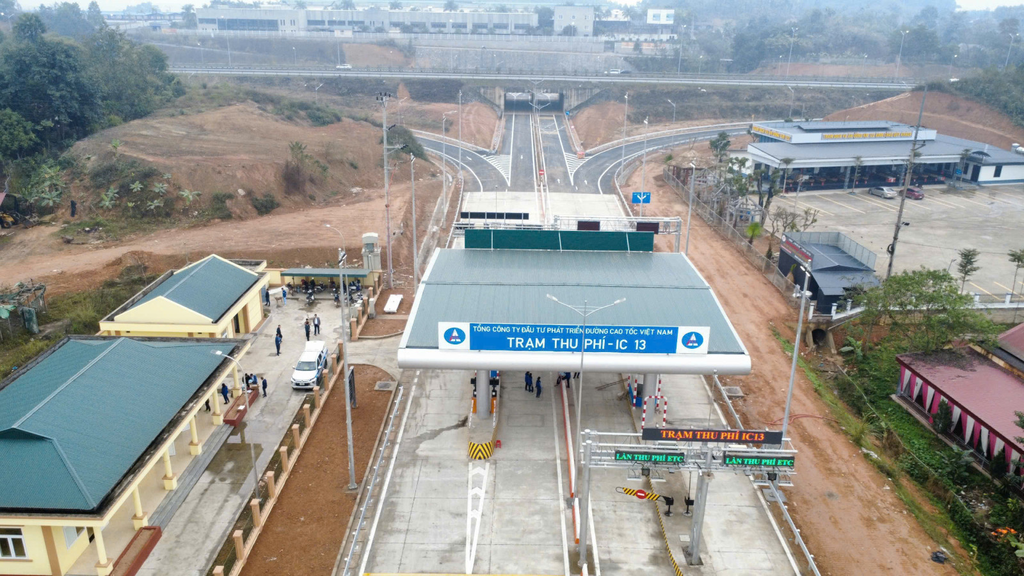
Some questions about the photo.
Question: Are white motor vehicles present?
Yes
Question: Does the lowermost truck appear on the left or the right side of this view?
left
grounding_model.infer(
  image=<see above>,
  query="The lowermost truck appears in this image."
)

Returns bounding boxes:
[283,338,327,384]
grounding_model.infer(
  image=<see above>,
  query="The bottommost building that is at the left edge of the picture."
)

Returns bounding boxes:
[0,334,251,576]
